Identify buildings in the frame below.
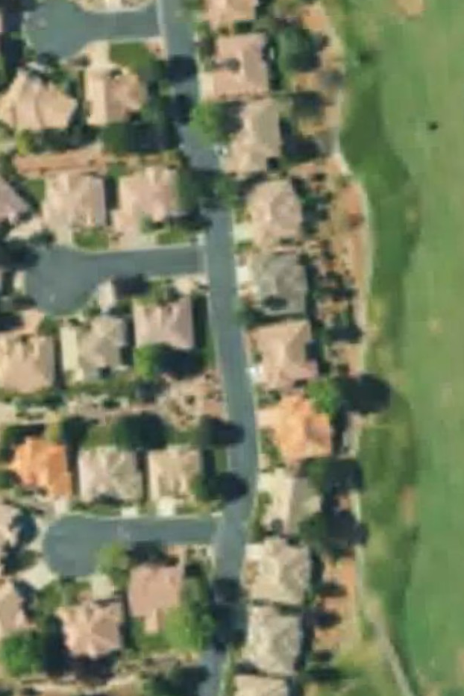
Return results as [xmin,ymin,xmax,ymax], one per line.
[0,331,56,393]
[56,604,125,658]
[147,449,203,504]
[225,98,284,170]
[114,169,175,232]
[212,31,269,99]
[7,437,71,499]
[247,321,317,386]
[270,396,332,461]
[197,0,258,23]
[0,504,22,572]
[132,300,195,351]
[0,66,75,134]
[245,180,302,251]
[78,445,145,504]
[261,469,316,533]
[252,253,309,317]
[245,537,311,607]
[237,676,289,696]
[241,609,304,675]
[85,69,145,126]
[43,174,107,232]
[0,579,37,645]
[78,315,129,381]
[0,176,28,231]
[127,565,185,635]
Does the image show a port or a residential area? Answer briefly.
residential area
